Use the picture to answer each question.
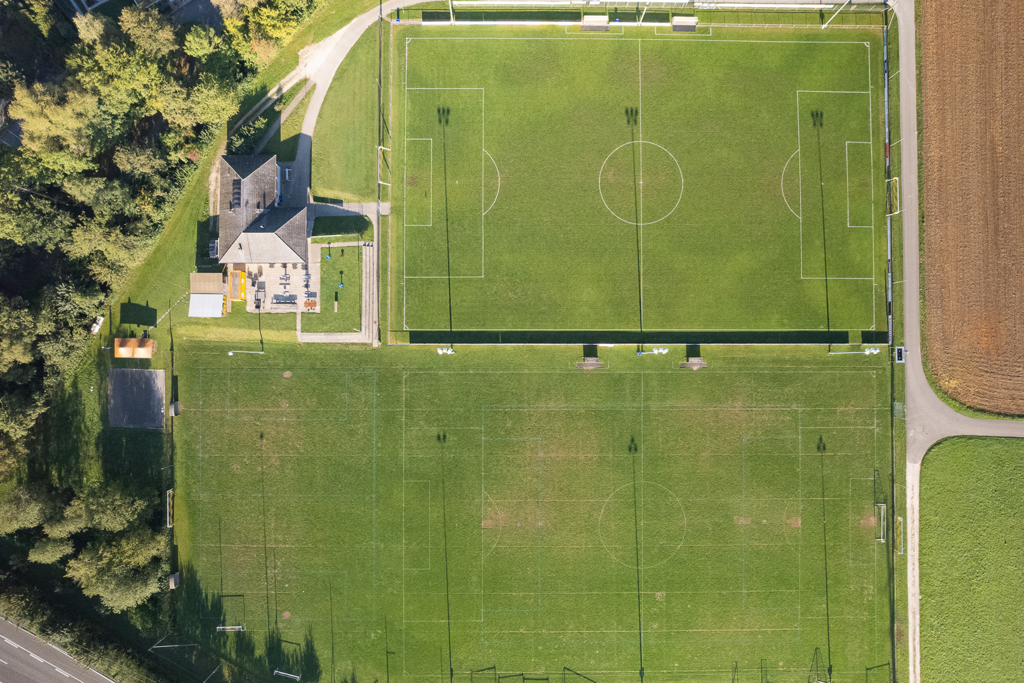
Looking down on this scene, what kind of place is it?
sports ground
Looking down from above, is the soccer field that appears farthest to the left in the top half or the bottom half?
bottom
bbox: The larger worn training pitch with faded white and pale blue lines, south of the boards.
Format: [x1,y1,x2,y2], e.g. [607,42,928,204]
[385,345,892,683]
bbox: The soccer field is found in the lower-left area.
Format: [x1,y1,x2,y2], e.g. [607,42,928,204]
[174,345,385,683]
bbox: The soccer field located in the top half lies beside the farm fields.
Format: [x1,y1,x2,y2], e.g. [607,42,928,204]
[391,24,889,344]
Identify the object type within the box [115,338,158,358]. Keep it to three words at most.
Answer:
gazebo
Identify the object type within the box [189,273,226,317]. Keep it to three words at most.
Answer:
shed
